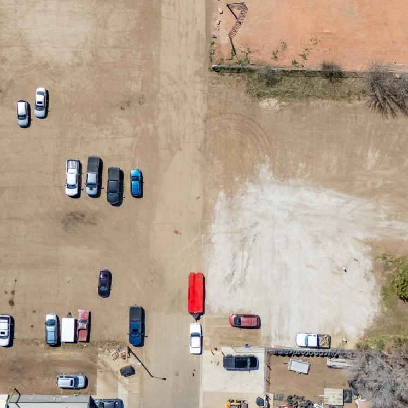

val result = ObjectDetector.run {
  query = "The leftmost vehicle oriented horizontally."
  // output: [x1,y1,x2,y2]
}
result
[56,372,87,388]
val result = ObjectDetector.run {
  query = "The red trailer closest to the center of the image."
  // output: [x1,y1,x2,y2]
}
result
[188,272,203,317]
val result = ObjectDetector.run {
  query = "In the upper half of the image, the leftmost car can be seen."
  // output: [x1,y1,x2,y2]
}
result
[14,99,29,127]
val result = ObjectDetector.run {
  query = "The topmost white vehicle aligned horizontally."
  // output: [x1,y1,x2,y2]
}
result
[296,331,331,347]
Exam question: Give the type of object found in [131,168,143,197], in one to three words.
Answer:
vehicle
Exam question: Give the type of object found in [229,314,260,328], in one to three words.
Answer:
car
